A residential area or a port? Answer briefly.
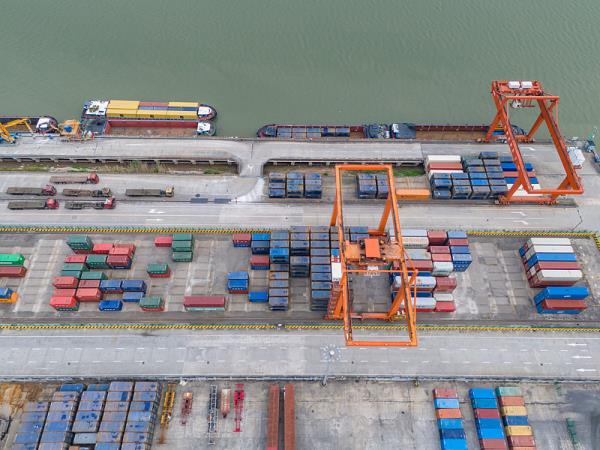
port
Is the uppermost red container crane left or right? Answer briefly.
right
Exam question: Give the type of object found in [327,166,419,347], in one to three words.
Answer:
container crane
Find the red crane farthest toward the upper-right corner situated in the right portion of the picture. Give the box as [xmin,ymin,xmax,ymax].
[479,78,585,204]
